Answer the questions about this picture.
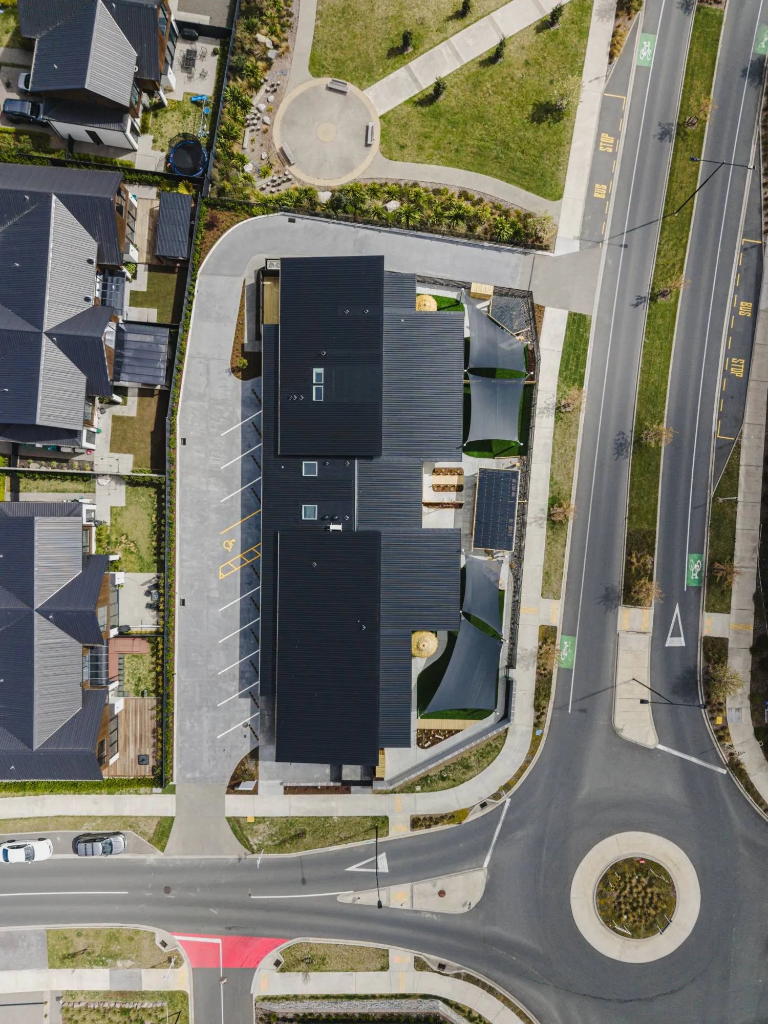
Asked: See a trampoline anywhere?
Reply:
Yes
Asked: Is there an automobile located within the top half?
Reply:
Yes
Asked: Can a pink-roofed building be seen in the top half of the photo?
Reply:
No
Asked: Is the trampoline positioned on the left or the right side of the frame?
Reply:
left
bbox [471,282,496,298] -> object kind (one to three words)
shed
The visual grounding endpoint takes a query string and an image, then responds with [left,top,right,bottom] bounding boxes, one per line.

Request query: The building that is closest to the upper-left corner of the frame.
[15,0,179,151]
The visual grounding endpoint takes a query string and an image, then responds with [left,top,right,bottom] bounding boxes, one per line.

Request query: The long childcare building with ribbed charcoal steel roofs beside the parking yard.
[258,254,465,787]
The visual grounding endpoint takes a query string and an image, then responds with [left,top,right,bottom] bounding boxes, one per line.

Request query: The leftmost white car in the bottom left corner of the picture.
[0,835,52,865]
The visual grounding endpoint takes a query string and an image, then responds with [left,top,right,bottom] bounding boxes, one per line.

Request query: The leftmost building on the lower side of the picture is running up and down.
[0,502,118,781]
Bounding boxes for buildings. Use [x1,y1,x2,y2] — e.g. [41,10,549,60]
[0,163,136,447]
[471,282,496,298]
[15,0,179,151]
[258,254,465,787]
[0,502,118,781]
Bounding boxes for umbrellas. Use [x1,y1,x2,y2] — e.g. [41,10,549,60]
[411,634,438,656]
[416,295,435,306]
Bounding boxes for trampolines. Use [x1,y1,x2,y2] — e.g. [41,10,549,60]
[165,127,208,174]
